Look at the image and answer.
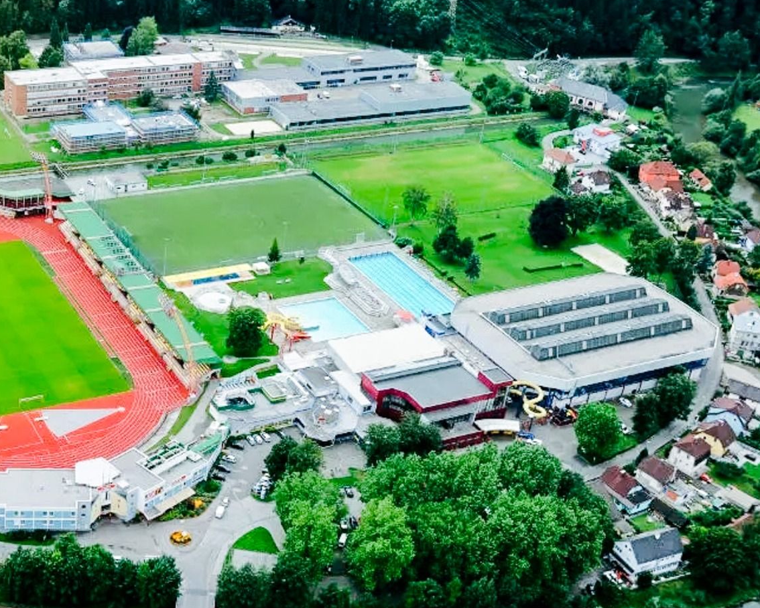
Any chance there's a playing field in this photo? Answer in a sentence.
Yes, there's a playing field down there.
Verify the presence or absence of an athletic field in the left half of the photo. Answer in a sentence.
Yes, an athletic field shows up in the left half of the photo.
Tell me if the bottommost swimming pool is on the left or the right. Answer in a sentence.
The bottommost swimming pool appears in the left half of the scene.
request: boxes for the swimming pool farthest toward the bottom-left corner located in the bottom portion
[212,388,255,416]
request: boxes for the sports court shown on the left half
[223,120,281,135]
